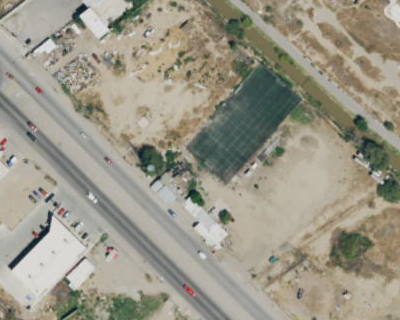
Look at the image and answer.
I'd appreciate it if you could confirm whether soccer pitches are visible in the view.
Yes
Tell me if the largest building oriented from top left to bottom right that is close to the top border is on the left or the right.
left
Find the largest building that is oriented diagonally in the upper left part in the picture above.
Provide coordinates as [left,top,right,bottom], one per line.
[80,8,108,38]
